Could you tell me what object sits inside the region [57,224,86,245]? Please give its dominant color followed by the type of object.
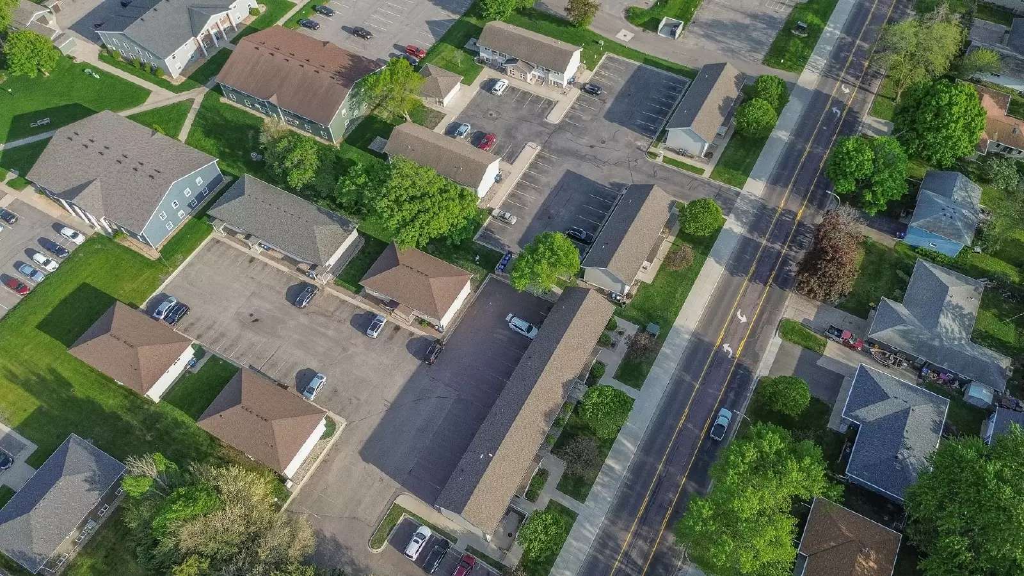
white car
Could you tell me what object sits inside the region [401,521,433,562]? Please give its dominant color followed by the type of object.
white car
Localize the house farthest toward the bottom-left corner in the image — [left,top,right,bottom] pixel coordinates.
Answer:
[0,433,127,576]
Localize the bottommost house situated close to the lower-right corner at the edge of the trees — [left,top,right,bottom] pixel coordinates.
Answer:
[788,501,893,576]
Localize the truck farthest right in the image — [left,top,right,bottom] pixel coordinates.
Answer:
[822,322,866,350]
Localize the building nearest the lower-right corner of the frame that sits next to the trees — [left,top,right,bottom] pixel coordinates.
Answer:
[982,406,1024,455]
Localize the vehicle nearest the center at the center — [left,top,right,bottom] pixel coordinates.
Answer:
[502,310,539,337]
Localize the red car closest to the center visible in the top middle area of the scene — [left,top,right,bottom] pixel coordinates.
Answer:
[478,131,498,151]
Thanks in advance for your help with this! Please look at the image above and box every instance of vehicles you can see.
[0,205,21,225]
[578,79,606,98]
[293,281,318,310]
[31,252,59,272]
[162,297,192,327]
[362,311,389,341]
[0,446,16,474]
[57,224,86,245]
[2,275,31,296]
[419,336,446,367]
[17,263,45,283]
[151,294,177,321]
[449,549,477,576]
[300,369,329,402]
[41,237,70,258]
[298,17,321,31]
[478,131,498,151]
[706,404,735,446]
[401,521,433,562]
[350,23,375,40]
[822,322,866,350]
[452,119,473,141]
[312,4,336,18]
[89,20,106,30]
[489,207,519,226]
[490,78,508,97]
[502,310,539,337]
[422,536,453,576]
